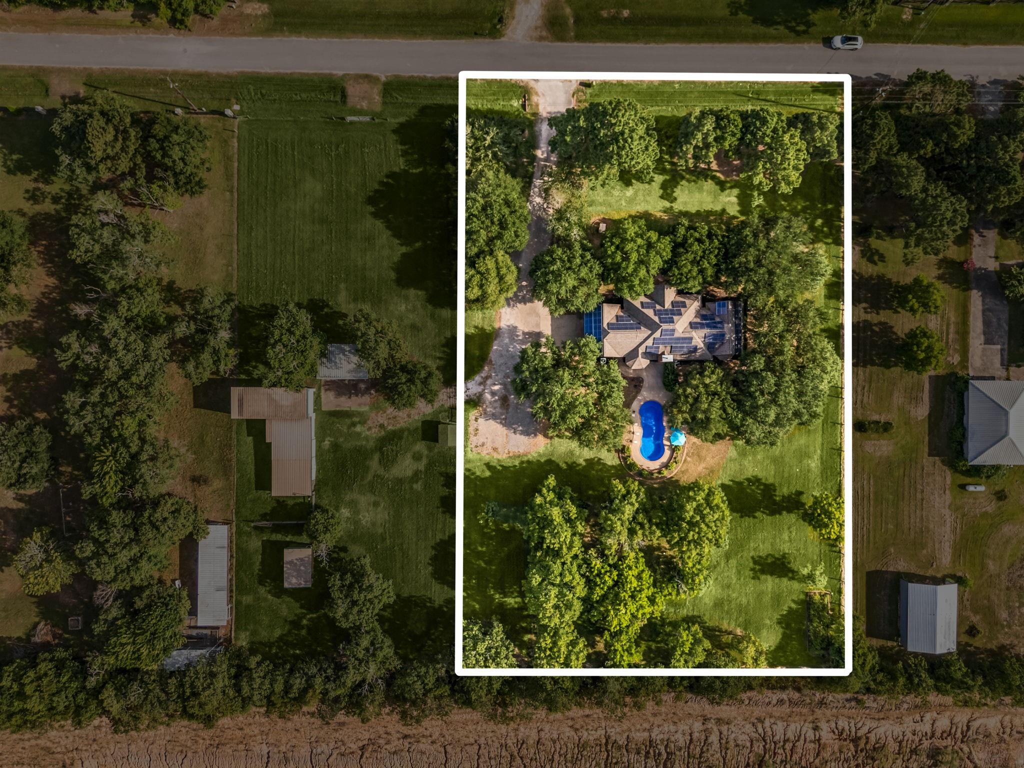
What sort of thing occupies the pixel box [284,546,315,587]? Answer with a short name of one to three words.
shed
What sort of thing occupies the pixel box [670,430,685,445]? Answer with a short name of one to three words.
umbrella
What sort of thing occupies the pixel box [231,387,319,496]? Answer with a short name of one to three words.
barn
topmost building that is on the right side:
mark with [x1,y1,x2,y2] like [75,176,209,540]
[602,285,736,369]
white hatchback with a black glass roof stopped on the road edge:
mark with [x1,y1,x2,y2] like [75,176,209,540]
[833,34,866,52]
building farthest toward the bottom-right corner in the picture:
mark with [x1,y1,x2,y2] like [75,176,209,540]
[897,579,958,654]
